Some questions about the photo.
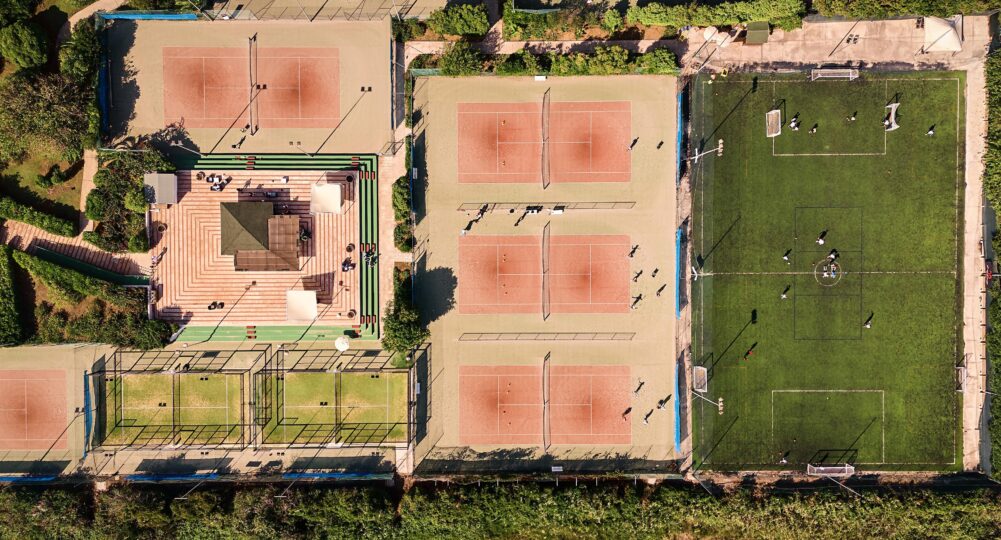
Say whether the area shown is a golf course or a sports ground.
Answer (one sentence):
This image shows a sports ground.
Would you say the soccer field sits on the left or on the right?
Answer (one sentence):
The soccer field is on the right side of the image.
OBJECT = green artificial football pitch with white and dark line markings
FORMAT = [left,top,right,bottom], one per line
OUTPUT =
[692,70,966,472]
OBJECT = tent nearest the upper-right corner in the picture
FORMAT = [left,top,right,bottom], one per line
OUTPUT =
[914,15,963,58]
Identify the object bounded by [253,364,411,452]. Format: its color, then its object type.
yellow sports court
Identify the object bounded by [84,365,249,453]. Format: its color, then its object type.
yellow sports court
